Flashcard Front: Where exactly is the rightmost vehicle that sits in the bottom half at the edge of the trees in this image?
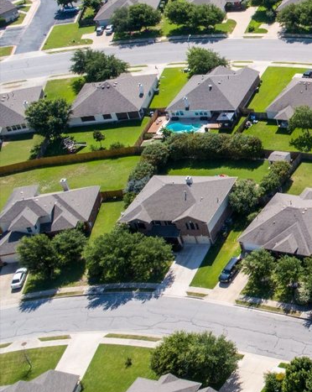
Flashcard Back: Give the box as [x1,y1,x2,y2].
[220,259,238,281]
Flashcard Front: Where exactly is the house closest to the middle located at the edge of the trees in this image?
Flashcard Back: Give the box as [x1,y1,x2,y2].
[119,166,237,245]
